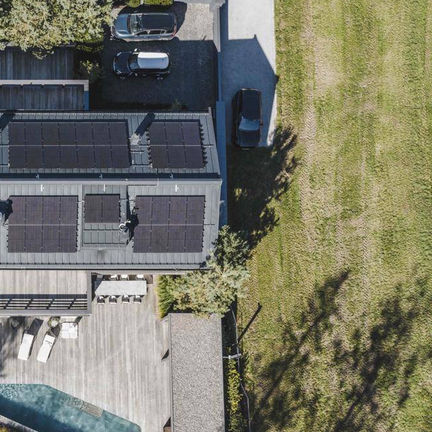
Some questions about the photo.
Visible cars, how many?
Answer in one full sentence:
The photo contains 3 cars.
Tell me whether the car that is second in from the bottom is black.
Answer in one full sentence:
Yes, the car that is second in from the bottom appears black.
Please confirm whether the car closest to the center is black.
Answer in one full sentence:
Yes, the car closest to the center is indeed black.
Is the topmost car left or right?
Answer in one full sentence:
The topmost car sits on the left side.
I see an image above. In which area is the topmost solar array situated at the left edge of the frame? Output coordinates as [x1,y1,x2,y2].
[7,122,131,169]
